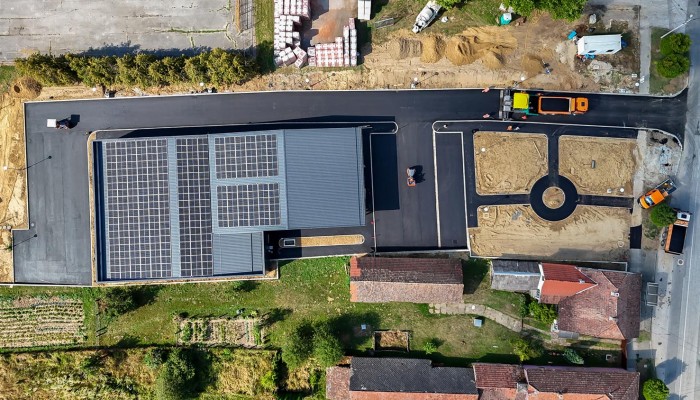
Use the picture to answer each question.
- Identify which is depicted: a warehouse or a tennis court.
warehouse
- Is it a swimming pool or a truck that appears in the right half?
truck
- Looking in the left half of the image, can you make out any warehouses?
Yes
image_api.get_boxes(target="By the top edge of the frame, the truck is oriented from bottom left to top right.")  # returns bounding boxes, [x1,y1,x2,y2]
[409,0,441,34]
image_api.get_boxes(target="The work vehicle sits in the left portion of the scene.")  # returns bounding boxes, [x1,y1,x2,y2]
[45,118,72,131]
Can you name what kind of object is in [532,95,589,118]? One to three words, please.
truck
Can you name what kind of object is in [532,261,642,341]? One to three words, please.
house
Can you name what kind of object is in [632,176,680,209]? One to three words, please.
truck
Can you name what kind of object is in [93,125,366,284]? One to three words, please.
warehouse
